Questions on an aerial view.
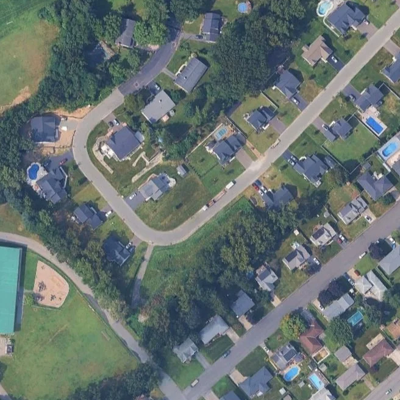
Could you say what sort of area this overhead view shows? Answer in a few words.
residential area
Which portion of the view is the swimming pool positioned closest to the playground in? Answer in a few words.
left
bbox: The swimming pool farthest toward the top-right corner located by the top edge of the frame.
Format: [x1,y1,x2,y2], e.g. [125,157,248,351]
[314,0,341,18]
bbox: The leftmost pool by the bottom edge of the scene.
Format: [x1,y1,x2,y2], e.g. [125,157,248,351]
[281,363,302,383]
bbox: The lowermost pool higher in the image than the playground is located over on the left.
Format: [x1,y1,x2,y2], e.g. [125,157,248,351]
[24,158,50,183]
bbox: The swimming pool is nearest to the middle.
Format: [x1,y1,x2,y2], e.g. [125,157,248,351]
[211,121,235,141]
